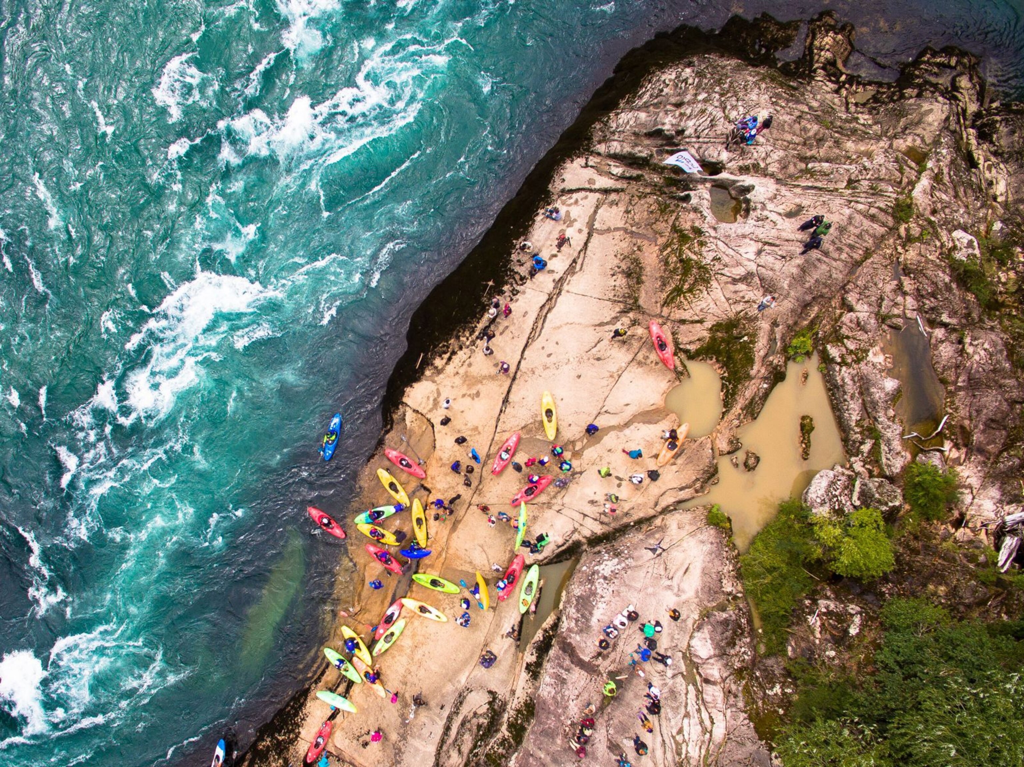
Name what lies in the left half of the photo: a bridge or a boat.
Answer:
boat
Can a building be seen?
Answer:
No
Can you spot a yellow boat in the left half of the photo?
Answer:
Yes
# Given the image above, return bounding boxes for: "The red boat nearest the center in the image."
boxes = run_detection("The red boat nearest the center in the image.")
[493,433,519,474]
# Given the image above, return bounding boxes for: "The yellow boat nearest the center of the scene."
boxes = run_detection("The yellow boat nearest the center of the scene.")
[542,391,556,440]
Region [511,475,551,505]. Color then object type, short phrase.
red boat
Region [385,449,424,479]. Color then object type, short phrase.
red boat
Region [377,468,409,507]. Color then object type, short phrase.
yellow boat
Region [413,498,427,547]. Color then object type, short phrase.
yellow boat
